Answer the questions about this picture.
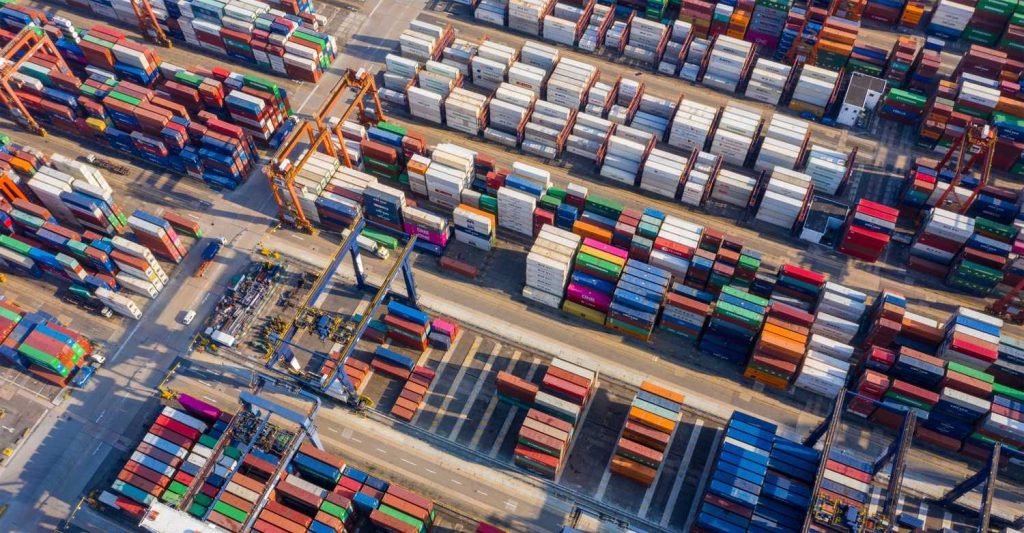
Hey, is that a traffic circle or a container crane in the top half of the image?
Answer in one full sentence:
Looking in the top half of the image, you will find a container crane.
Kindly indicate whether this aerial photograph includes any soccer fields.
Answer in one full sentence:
No, I can see no soccer field in this picture.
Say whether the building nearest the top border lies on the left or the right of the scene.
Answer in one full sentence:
It is on the right.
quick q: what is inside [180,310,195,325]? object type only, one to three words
vehicle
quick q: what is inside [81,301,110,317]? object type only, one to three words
vehicle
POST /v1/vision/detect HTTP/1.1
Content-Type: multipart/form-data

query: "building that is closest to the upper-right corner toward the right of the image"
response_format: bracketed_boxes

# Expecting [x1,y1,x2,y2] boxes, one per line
[836,72,886,126]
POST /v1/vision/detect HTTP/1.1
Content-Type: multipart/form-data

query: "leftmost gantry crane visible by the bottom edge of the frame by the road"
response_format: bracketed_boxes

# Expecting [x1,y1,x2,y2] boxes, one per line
[134,378,329,533]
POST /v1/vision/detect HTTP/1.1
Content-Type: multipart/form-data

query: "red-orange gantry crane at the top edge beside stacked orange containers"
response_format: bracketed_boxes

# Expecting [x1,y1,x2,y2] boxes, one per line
[784,0,838,67]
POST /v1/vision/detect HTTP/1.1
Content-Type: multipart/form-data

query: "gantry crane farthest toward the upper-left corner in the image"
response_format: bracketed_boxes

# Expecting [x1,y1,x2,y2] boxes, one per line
[0,25,82,135]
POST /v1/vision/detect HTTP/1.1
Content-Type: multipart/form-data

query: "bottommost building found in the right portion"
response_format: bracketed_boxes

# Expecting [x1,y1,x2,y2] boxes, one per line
[799,195,849,245]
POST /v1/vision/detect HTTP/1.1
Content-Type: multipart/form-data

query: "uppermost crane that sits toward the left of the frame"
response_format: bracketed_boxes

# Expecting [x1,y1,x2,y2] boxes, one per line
[124,0,174,45]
